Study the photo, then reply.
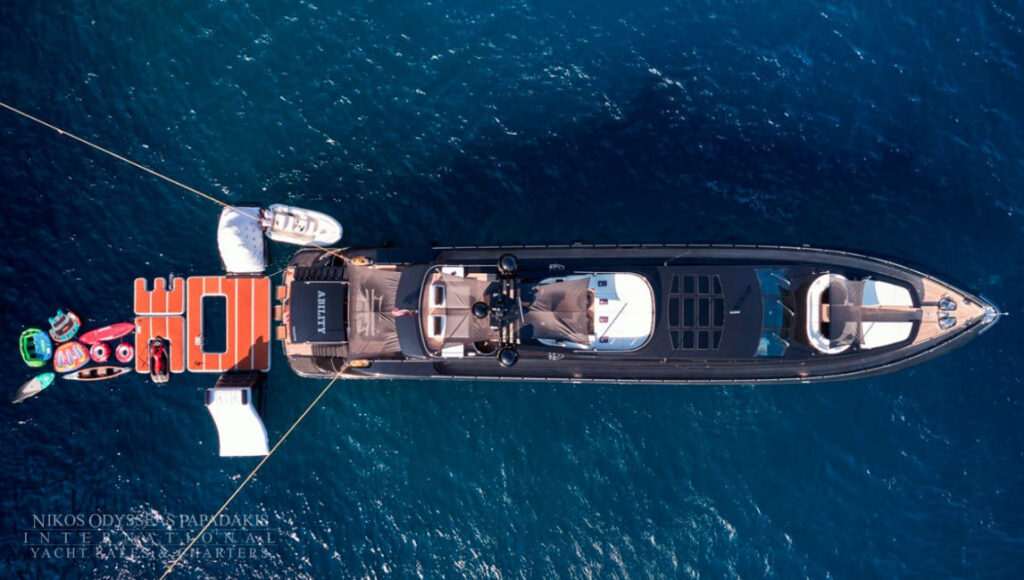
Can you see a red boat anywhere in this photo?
Yes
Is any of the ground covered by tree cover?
No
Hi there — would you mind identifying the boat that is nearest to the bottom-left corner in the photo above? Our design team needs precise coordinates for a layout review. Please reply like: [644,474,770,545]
[61,366,133,380]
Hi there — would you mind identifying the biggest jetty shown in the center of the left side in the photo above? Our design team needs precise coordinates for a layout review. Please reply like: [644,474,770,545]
[188,276,272,372]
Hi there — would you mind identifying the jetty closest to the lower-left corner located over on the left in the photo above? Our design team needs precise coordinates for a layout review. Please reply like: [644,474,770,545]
[135,317,186,372]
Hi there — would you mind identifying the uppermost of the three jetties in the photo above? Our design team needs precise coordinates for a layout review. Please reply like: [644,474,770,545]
[135,277,187,315]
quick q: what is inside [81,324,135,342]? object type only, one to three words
boat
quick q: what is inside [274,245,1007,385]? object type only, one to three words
boat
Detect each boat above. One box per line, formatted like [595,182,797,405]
[61,366,133,380]
[274,245,1007,385]
[149,338,172,383]
[81,324,135,342]
[258,204,340,246]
